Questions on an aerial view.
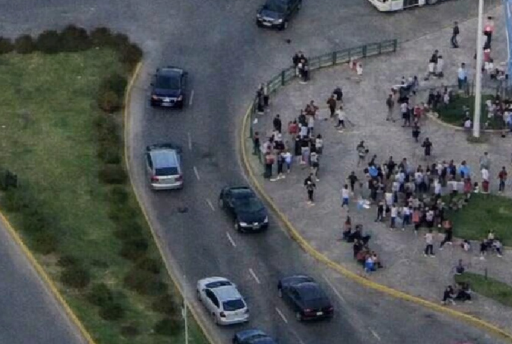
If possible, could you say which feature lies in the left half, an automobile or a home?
automobile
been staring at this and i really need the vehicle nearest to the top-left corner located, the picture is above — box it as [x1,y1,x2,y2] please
[153,61,189,102]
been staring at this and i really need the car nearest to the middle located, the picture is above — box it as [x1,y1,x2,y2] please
[215,168,269,226]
